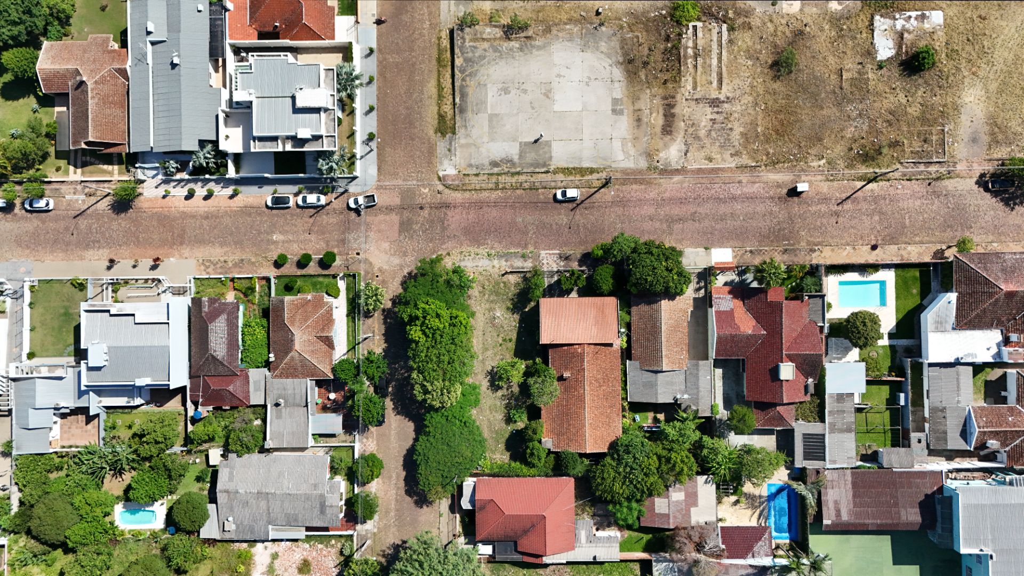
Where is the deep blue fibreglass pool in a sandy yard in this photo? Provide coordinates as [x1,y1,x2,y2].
[768,483,798,540]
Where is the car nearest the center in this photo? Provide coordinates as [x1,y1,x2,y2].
[553,188,580,202]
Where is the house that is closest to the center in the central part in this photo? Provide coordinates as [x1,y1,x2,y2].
[540,297,619,344]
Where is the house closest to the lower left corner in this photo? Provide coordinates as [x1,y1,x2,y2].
[8,361,97,453]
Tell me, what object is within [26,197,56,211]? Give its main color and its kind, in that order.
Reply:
white car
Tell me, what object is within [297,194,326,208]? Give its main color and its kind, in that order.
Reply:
white car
